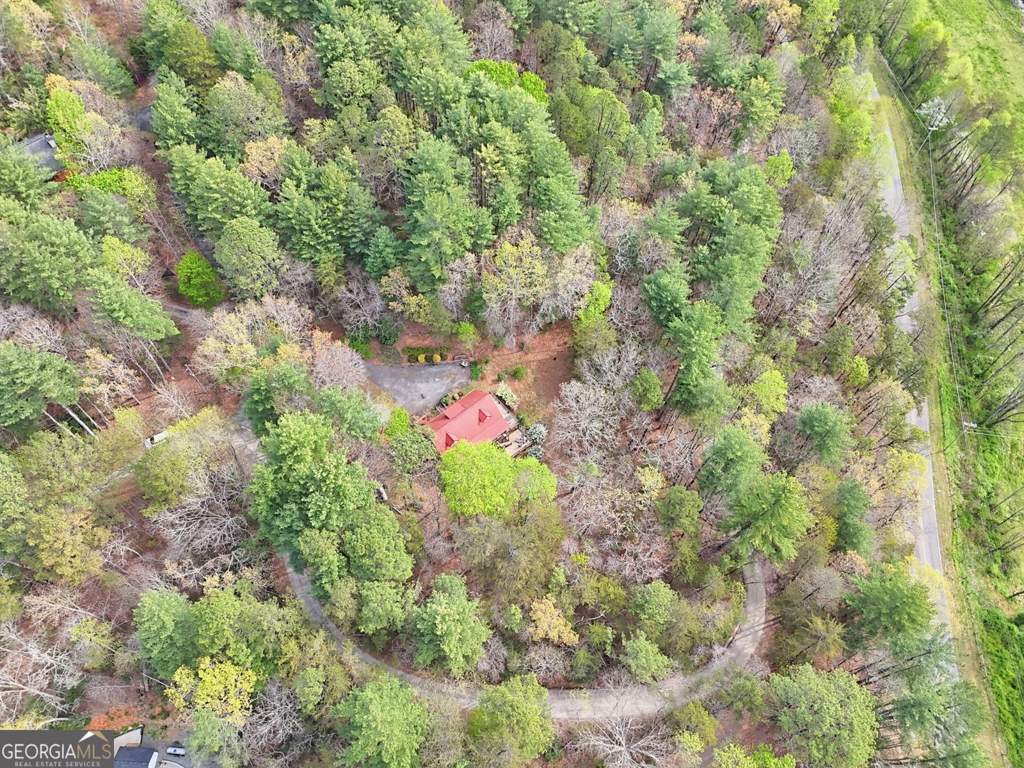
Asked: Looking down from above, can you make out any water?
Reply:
No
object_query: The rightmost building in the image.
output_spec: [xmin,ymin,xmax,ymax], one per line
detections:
[424,388,534,459]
